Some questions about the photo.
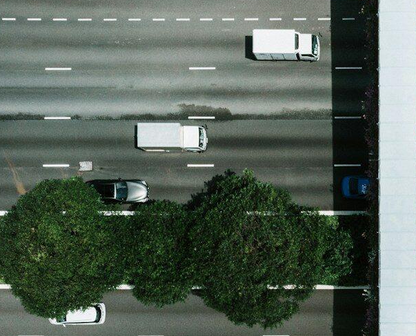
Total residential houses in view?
0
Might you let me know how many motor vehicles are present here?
5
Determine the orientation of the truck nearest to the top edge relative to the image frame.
from left to right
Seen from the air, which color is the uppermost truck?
white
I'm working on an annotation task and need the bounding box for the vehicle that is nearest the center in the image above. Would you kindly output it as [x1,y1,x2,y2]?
[135,122,210,152]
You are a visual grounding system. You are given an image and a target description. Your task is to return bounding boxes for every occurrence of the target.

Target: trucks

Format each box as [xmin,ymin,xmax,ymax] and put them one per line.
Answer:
[135,122,210,152]
[252,26,322,58]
